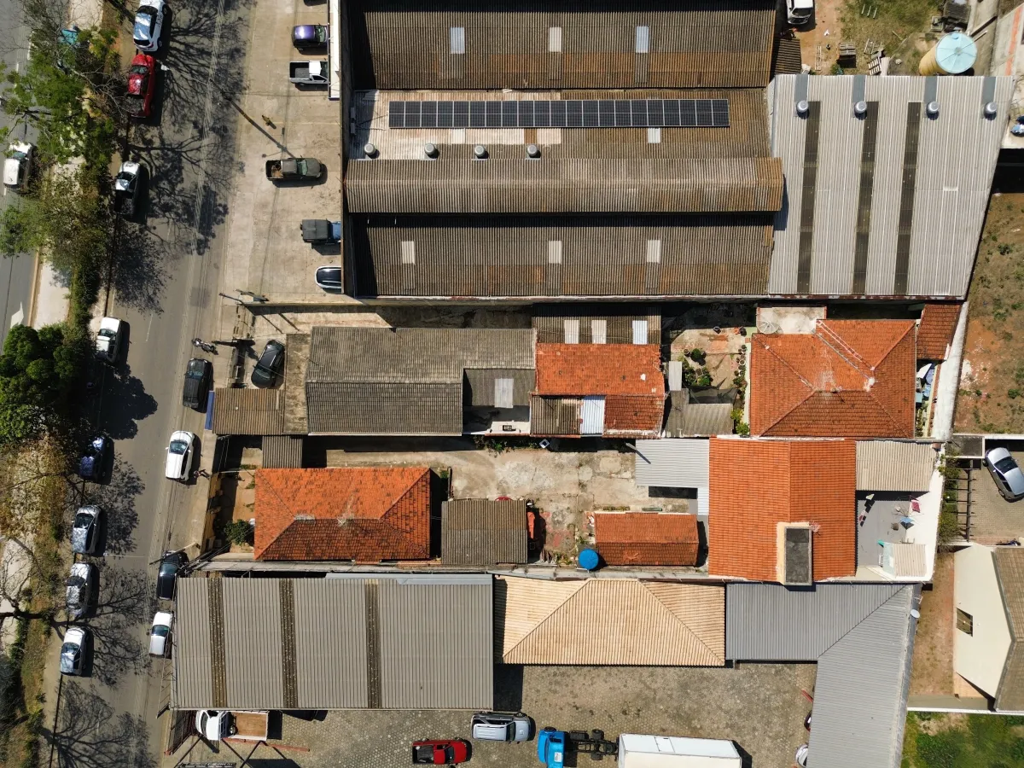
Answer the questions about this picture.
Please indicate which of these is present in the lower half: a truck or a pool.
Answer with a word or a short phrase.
truck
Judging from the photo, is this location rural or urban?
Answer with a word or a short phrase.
urban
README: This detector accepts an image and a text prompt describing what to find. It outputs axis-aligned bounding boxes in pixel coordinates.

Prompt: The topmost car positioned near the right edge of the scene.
[980,446,1024,503]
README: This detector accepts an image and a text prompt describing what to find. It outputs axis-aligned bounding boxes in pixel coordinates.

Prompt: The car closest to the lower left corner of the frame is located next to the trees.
[60,624,92,677]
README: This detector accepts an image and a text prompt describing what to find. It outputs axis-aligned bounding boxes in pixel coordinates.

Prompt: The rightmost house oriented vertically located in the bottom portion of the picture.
[954,545,1024,700]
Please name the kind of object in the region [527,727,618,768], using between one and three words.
truck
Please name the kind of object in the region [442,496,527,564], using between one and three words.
shed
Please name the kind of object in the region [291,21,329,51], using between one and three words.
car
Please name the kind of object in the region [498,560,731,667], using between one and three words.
house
